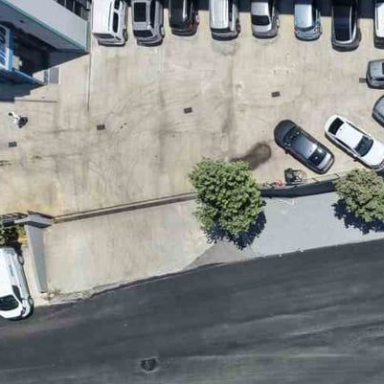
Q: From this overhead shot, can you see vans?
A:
Yes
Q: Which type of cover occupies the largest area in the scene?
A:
paved ground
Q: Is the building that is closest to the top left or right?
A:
left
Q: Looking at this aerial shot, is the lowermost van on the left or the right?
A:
left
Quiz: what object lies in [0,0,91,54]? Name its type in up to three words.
building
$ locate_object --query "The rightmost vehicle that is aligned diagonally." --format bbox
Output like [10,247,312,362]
[323,112,384,170]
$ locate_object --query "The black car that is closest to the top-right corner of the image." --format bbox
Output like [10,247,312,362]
[330,0,362,51]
